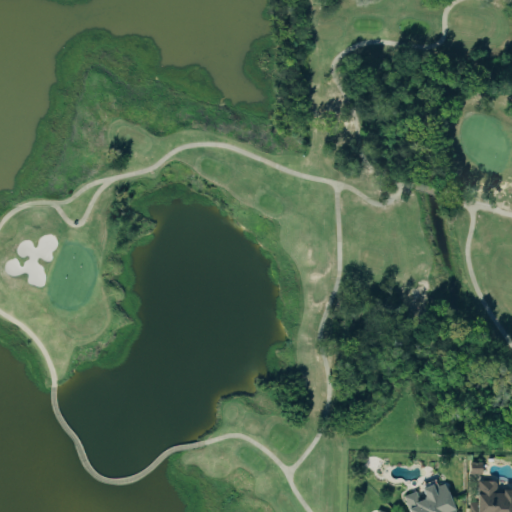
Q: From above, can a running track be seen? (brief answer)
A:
No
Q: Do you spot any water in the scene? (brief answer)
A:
Yes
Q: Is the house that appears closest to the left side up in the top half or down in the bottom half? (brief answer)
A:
bottom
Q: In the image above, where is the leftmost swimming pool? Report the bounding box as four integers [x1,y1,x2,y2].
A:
[391,467,420,486]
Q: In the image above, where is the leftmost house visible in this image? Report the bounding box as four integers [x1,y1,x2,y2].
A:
[401,481,461,512]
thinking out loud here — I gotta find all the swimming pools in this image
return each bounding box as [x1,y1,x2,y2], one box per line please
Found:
[391,467,420,486]
[491,465,512,478]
